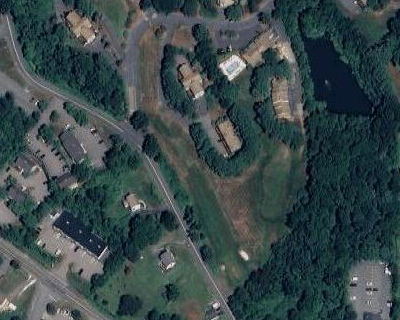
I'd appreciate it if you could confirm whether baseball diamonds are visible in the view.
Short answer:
No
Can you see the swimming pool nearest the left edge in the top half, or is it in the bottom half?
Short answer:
top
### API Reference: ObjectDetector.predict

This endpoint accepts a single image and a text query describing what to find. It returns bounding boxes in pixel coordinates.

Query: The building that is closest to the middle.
[214,118,241,154]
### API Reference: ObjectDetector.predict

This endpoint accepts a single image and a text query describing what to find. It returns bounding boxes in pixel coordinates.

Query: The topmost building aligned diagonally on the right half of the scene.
[239,23,286,63]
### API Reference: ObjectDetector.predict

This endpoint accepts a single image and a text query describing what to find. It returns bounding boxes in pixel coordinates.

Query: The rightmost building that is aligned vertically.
[270,75,292,119]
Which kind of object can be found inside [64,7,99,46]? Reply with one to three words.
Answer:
building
